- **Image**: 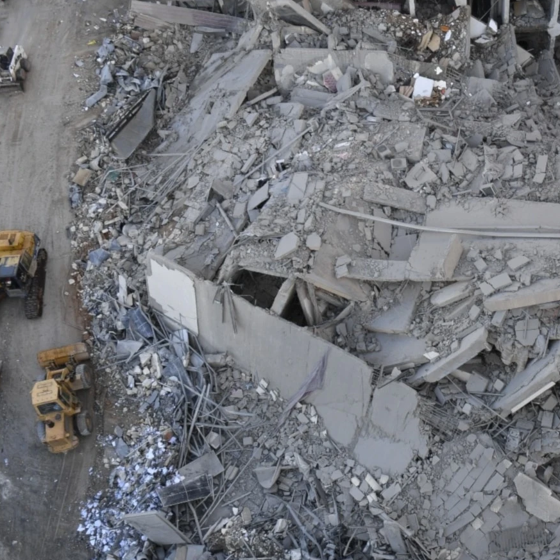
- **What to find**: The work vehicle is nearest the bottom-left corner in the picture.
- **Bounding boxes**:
[28,331,96,461]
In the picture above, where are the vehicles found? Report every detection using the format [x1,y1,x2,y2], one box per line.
[0,227,53,331]
[0,47,27,100]
[28,331,96,461]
